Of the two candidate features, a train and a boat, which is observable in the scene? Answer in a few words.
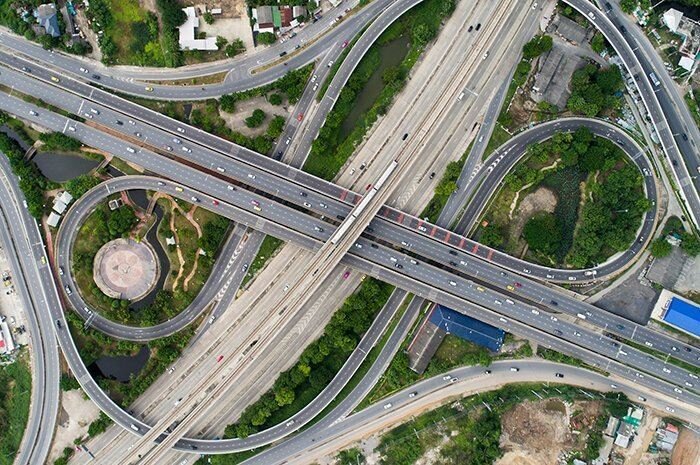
train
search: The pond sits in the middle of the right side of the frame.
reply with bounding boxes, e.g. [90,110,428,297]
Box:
[543,165,586,264]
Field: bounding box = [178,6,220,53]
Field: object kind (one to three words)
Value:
building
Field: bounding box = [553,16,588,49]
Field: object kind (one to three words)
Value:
building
